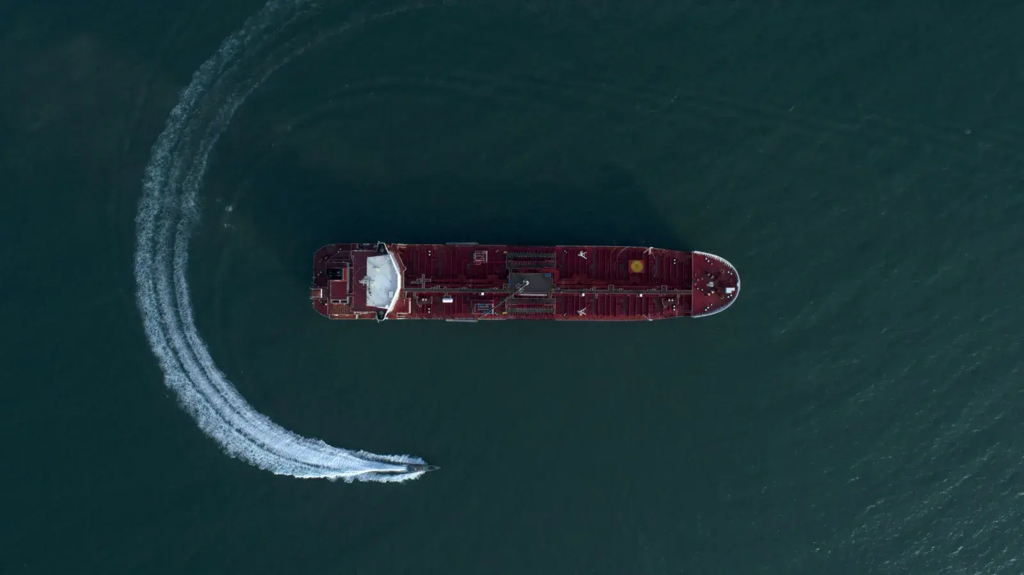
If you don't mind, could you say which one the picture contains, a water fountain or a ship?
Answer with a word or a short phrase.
ship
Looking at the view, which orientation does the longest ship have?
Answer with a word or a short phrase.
from left to right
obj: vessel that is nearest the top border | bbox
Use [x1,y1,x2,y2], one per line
[310,242,740,323]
